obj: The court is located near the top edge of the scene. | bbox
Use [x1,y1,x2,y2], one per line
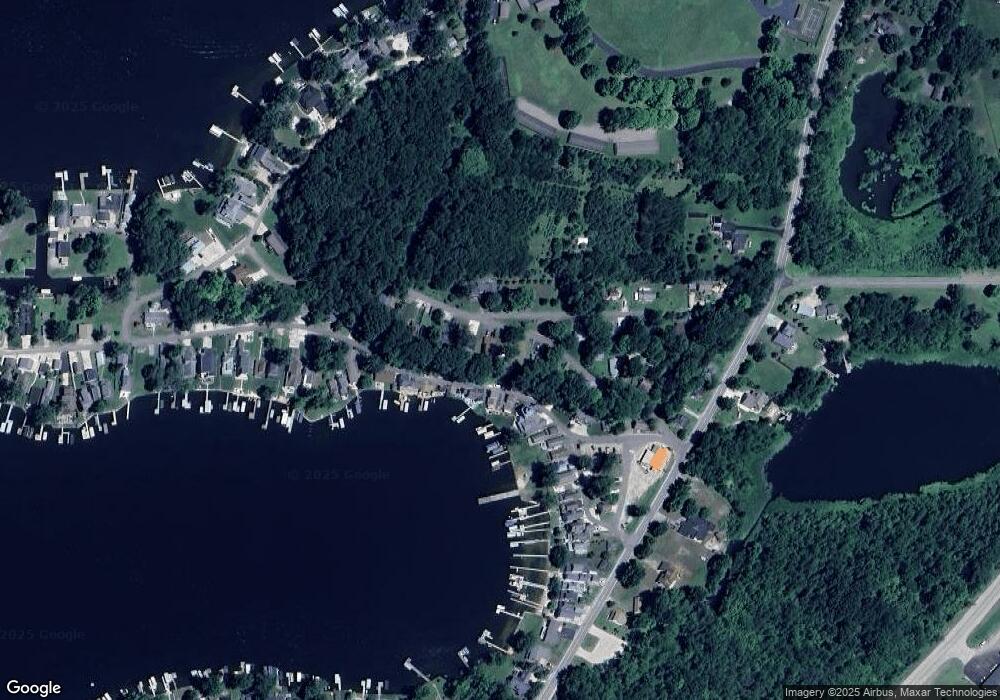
[789,0,829,44]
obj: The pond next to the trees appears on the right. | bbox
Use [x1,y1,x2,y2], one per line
[839,72,966,220]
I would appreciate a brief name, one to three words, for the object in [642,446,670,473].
building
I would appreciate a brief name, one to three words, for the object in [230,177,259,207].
house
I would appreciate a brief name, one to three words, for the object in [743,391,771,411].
house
